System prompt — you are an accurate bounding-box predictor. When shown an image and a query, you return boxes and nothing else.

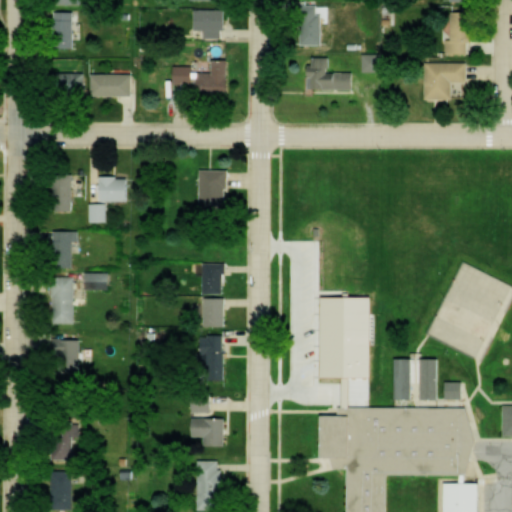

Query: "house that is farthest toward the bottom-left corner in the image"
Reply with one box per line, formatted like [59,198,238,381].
[50,470,72,511]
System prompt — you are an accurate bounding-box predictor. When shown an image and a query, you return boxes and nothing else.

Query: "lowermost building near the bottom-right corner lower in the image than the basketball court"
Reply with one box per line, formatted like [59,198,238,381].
[442,479,484,512]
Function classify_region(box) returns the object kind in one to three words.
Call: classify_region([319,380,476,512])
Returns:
building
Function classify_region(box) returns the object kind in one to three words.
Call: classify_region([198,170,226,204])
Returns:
house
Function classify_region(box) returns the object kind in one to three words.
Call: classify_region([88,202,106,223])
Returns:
building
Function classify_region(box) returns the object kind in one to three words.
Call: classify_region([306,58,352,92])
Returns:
house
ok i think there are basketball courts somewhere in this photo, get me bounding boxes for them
[429,262,512,362]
